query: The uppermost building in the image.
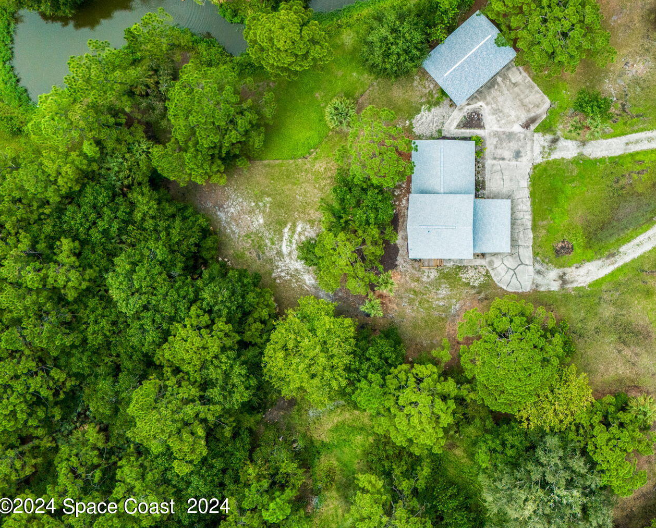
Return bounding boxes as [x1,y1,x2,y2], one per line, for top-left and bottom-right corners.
[422,10,515,105]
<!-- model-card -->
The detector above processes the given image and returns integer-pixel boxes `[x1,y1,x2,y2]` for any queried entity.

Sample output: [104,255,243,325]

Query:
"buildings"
[407,139,511,259]
[422,10,515,105]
